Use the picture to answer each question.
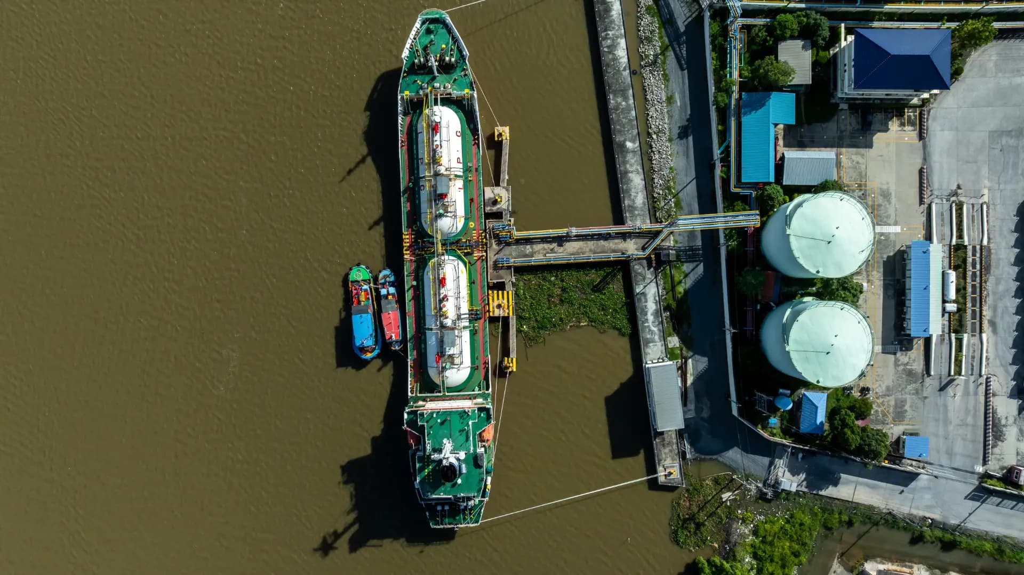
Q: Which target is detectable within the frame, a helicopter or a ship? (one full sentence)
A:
Looking from above, you can make out a ship.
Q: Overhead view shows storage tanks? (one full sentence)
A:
Yes, looking at the shot, I can spot a storage tank.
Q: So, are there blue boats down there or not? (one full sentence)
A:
Yes, looking at the shot, I can spot a blue boat.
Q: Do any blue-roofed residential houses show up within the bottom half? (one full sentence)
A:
Yes, looking within the bottom half, one can make out a blue-roofed residential house.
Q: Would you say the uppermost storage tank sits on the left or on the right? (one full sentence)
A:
The uppermost storage tank is on the right side of the image.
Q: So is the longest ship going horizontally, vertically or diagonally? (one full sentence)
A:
Seen from above, the longest ship lies vertically.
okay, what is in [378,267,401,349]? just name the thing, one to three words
boat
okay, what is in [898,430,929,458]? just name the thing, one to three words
shed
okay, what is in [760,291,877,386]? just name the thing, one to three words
storage tank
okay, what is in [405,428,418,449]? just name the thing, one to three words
boat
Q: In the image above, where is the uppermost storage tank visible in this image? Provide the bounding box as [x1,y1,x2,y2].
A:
[761,187,878,278]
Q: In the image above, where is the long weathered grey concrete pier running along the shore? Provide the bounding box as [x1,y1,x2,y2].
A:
[593,0,685,487]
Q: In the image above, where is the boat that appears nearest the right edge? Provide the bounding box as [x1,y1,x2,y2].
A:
[480,425,492,447]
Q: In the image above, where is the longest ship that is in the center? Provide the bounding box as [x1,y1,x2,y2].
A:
[397,7,493,530]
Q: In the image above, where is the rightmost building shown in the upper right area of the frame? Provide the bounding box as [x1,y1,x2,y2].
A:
[834,22,951,108]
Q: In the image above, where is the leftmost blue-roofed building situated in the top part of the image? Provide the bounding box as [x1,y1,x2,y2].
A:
[739,92,795,182]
